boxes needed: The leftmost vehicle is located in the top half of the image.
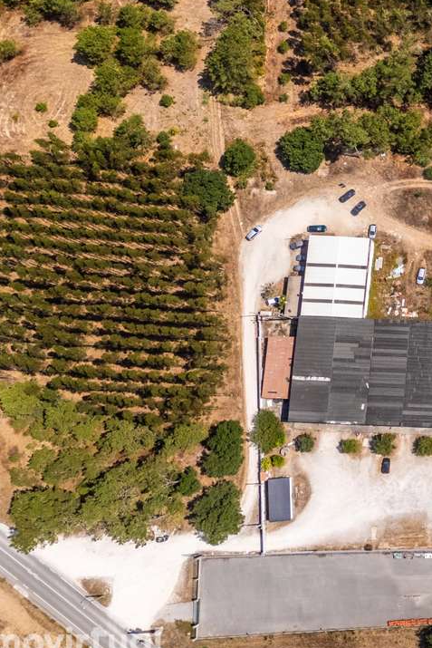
[245,223,263,240]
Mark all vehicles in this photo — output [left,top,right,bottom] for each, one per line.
[349,201,367,216]
[338,188,356,203]
[307,224,327,232]
[294,253,306,262]
[416,266,426,284]
[293,264,305,272]
[369,223,378,240]
[381,457,390,475]
[245,223,263,240]
[288,240,305,249]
